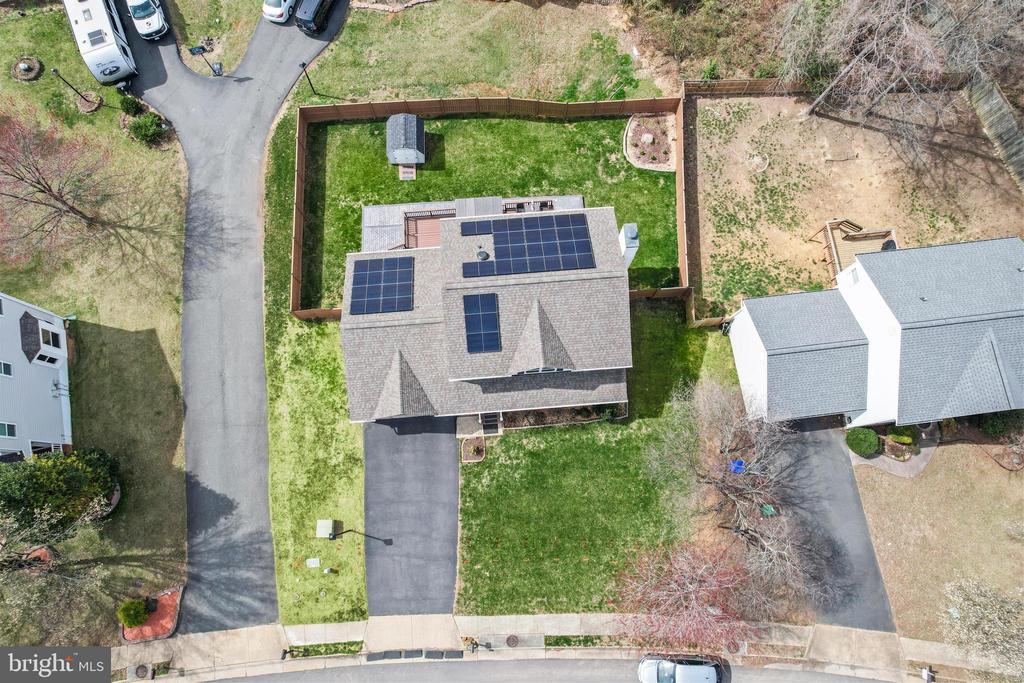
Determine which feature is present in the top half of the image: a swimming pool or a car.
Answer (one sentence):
Looking in the top half of the image, you will find a car.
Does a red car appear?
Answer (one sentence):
No, I can't see a single red car in this photo.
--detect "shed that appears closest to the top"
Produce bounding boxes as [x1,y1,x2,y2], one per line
[386,112,426,181]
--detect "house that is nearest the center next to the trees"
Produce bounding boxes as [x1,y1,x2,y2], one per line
[340,205,637,425]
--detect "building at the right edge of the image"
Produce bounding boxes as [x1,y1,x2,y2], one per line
[730,235,1024,451]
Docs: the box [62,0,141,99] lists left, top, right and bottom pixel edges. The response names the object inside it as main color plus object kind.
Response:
white vehicle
